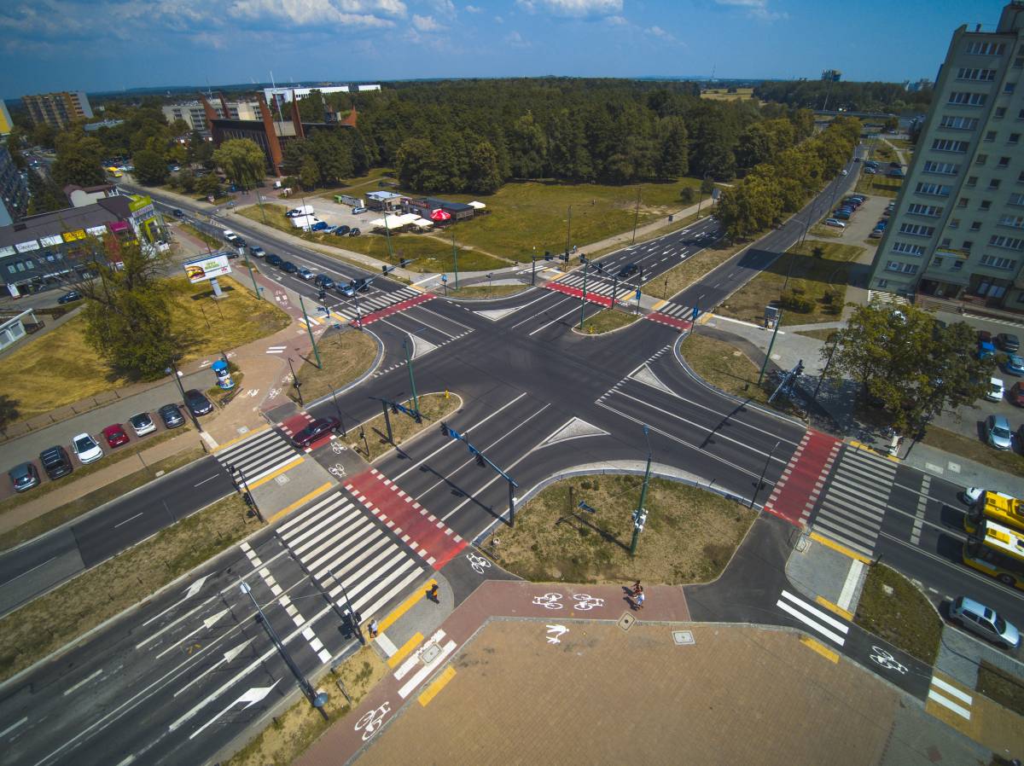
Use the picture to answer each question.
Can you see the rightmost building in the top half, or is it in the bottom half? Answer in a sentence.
The rightmost building is in the top half of the image.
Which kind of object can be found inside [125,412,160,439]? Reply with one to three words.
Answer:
car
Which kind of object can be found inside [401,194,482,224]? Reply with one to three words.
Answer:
building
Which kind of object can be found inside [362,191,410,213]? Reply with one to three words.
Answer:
shed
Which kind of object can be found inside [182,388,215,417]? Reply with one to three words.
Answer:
car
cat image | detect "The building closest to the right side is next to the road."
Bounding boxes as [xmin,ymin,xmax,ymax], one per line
[869,0,1024,315]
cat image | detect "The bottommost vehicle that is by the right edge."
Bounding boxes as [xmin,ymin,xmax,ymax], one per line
[940,598,1024,653]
